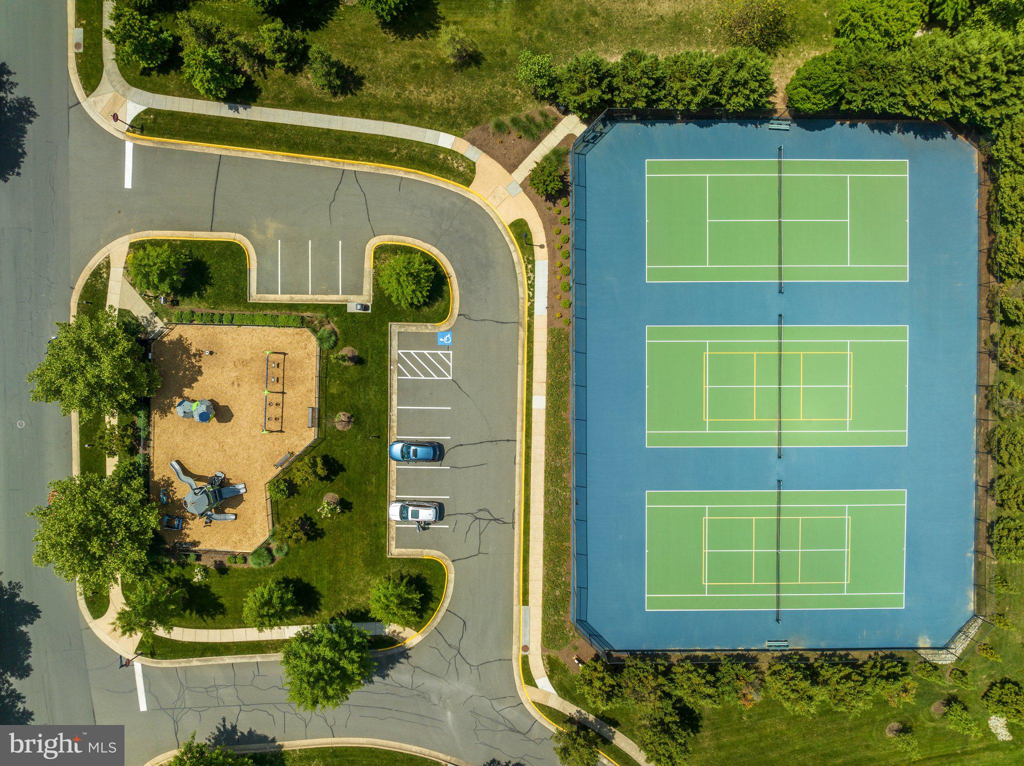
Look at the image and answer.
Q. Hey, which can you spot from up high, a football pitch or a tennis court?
tennis court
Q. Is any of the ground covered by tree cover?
Yes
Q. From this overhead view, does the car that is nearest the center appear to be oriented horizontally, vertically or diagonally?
horizontally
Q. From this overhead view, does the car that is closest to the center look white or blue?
blue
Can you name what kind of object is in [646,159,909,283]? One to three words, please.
tennis court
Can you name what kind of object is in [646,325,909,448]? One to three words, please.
tennis court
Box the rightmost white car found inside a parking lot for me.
[388,500,439,533]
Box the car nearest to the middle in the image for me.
[389,439,440,464]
